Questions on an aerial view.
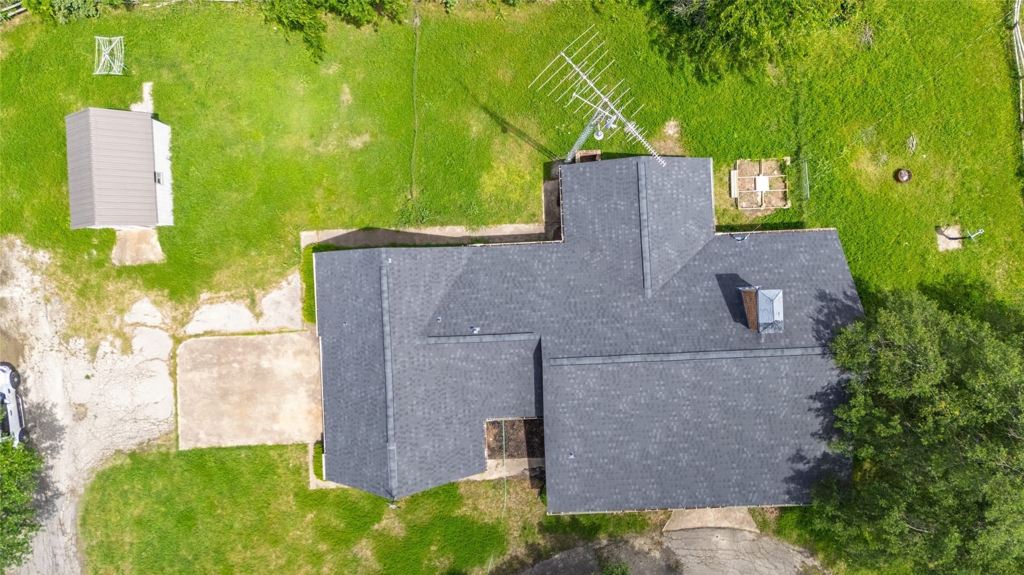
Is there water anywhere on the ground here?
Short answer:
No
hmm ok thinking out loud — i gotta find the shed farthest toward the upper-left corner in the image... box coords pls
[64,107,176,231]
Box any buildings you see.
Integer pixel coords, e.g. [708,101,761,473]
[312,155,873,517]
[64,107,176,231]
